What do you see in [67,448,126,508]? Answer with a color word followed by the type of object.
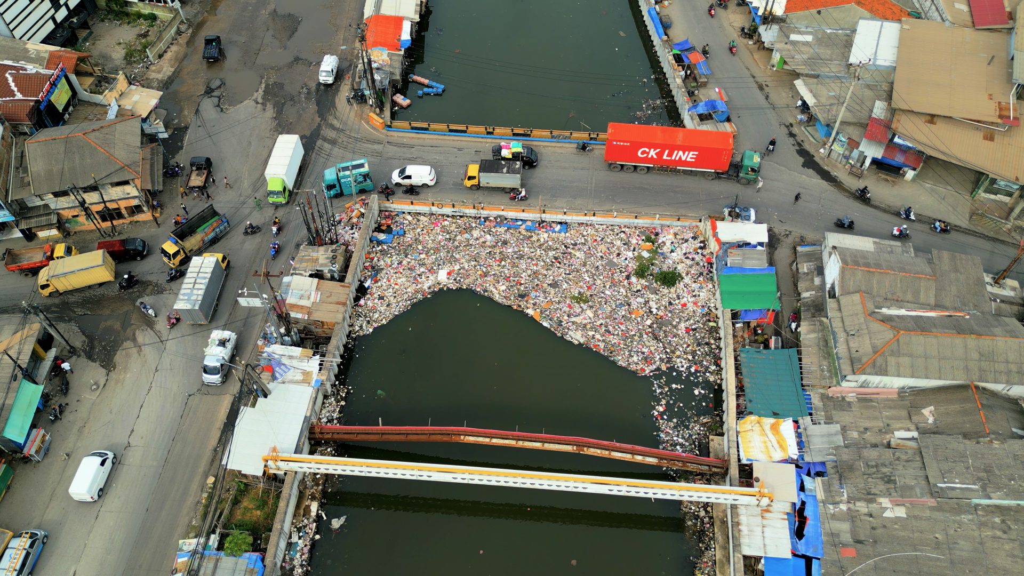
white van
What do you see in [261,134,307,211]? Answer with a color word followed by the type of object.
white truck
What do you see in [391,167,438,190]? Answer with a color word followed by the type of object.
white car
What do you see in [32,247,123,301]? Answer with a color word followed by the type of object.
yellow truck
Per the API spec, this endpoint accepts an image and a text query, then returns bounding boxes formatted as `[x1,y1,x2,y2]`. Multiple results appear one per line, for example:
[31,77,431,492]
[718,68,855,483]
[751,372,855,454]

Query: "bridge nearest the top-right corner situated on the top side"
[376,125,707,237]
